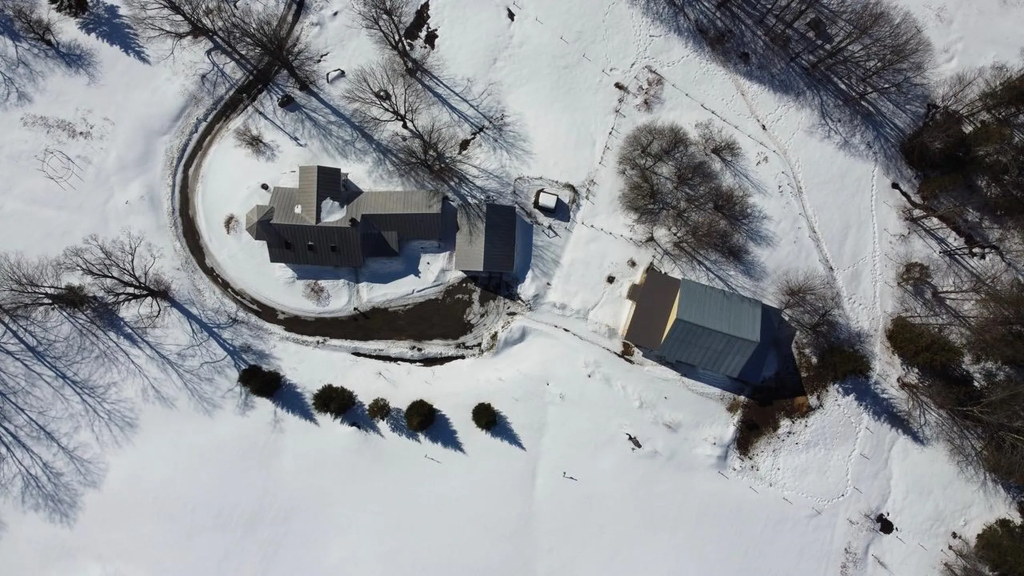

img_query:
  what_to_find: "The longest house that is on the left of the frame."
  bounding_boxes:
[246,164,443,267]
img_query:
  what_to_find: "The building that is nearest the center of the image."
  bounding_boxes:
[454,202,516,272]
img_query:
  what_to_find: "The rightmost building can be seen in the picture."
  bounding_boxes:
[652,279,761,378]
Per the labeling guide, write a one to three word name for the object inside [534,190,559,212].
shed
